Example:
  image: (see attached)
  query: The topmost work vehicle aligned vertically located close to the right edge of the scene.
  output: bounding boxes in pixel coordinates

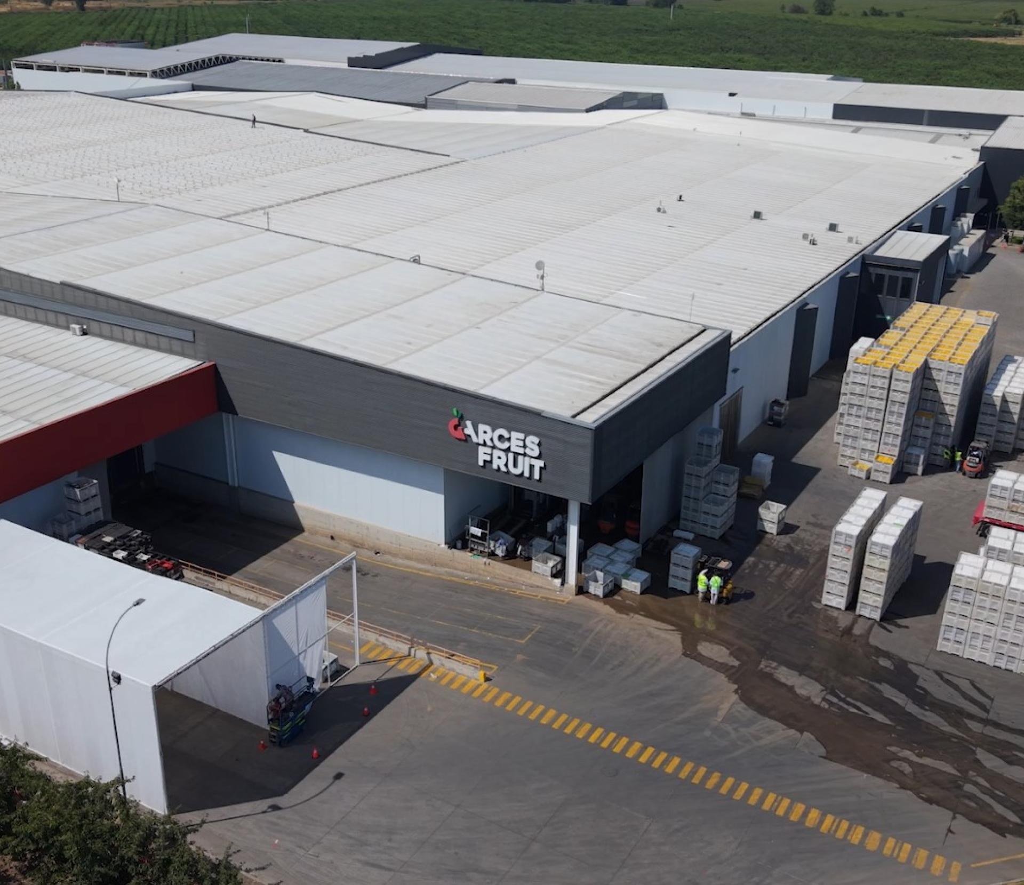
[966,431,991,475]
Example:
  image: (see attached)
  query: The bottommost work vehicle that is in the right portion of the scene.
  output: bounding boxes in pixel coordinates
[691,557,749,605]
